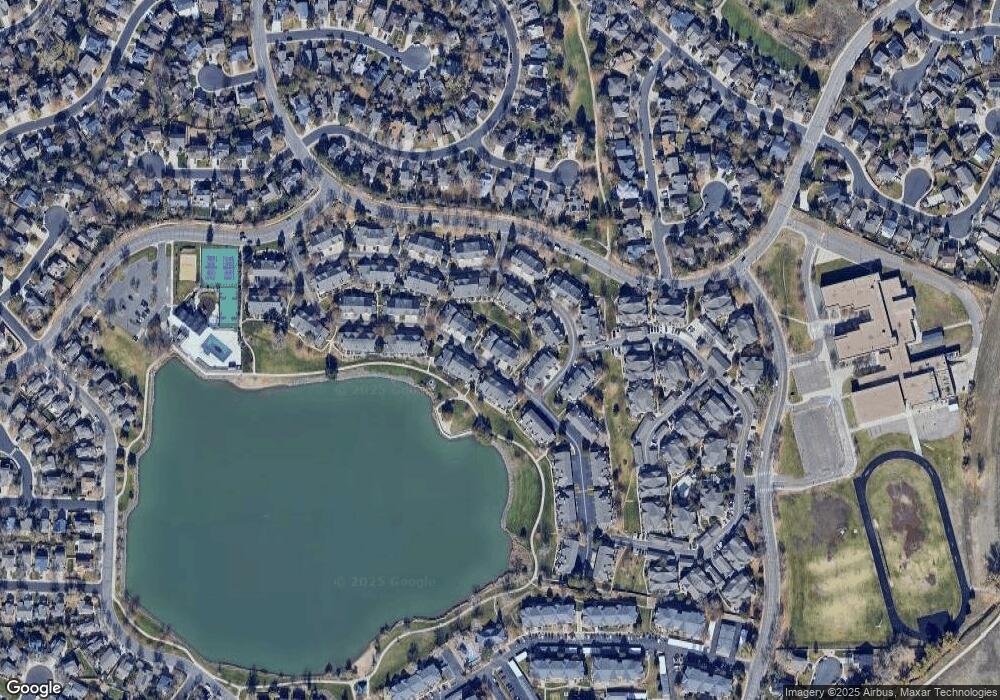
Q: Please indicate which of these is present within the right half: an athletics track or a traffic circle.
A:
athletics track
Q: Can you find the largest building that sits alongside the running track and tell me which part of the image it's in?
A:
right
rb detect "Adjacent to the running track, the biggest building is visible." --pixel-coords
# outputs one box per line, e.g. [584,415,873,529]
[821,272,954,426]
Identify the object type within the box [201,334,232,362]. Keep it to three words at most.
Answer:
swimming pool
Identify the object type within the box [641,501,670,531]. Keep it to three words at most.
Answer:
building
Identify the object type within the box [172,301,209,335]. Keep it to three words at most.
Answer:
building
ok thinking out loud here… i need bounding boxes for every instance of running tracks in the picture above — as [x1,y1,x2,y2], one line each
[854,448,971,641]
